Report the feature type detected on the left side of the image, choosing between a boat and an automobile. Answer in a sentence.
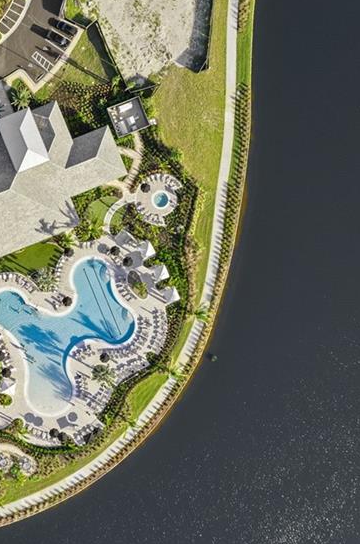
Visible on the left side of the image is an automobile.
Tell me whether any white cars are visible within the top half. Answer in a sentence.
No, looking within the top half, there is no white car.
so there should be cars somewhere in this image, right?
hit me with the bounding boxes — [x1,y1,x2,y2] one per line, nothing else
[47,31,69,48]
[56,21,77,37]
